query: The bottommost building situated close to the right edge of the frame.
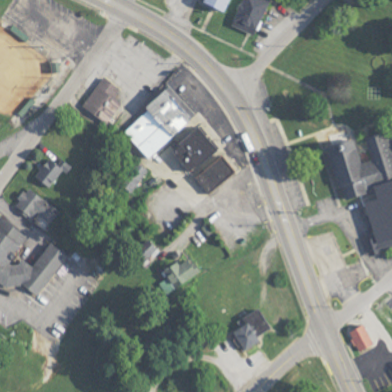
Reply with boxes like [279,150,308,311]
[350,326,374,353]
